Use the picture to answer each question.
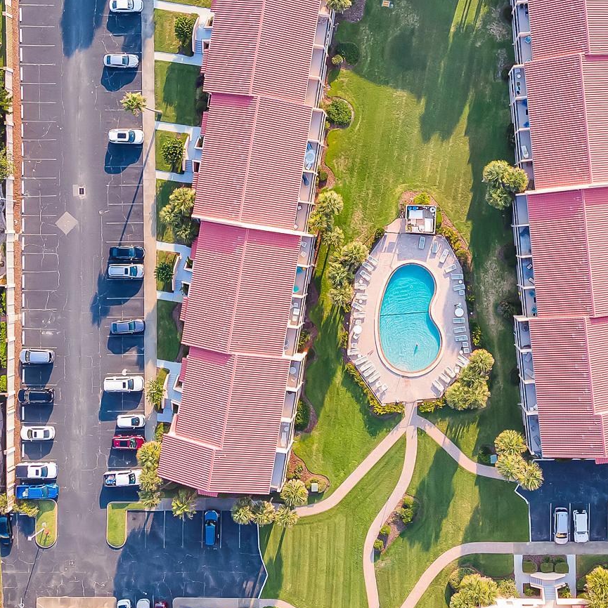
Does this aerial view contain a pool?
Yes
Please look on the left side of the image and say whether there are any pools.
No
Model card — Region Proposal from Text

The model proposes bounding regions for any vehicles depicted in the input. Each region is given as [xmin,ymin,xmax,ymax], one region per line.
[552,505,569,542]
[22,348,57,364]
[104,52,141,68]
[109,0,145,14]
[103,470,141,487]
[118,596,134,608]
[108,262,146,279]
[110,127,145,143]
[22,424,59,440]
[0,510,16,545]
[117,414,148,429]
[21,388,56,404]
[204,508,220,545]
[572,506,589,540]
[139,596,153,608]
[19,483,60,500]
[111,319,146,335]
[110,245,146,261]
[18,463,59,479]
[104,375,144,392]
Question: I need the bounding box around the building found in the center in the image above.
[158,0,342,497]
